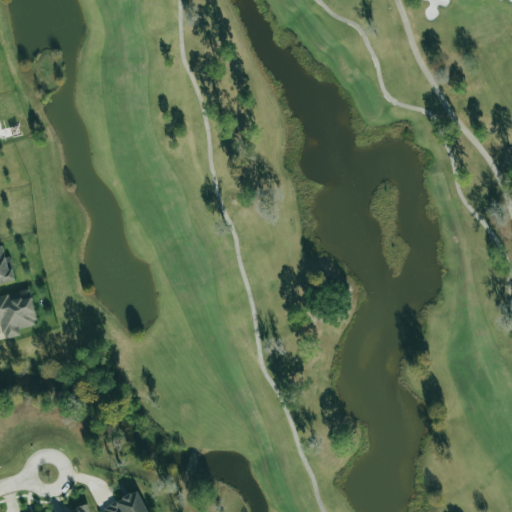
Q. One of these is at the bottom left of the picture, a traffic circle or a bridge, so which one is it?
traffic circle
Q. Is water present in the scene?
Yes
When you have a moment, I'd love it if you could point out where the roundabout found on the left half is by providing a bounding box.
[12,448,74,498]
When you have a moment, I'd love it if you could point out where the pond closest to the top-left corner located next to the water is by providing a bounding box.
[10,0,158,334]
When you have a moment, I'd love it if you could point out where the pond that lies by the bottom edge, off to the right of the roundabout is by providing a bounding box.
[178,448,268,512]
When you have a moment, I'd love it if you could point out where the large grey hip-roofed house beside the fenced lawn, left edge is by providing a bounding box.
[0,294,36,338]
